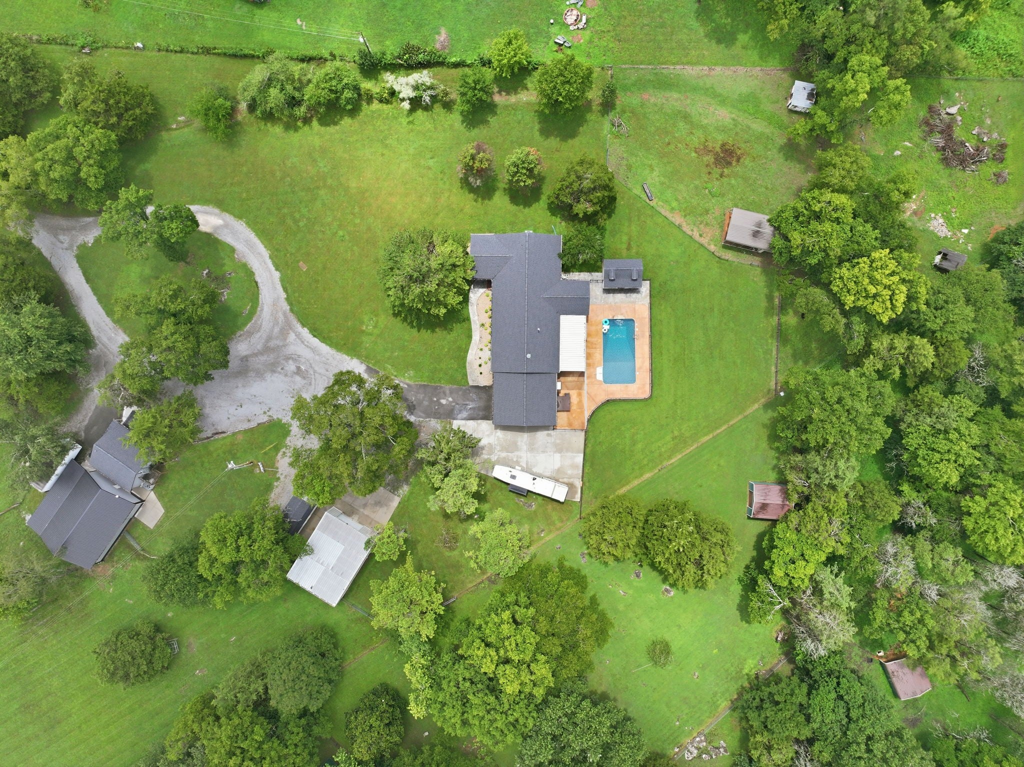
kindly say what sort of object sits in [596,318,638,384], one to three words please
swimming pool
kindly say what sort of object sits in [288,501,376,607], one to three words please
building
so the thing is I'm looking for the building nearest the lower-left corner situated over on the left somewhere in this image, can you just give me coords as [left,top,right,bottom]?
[27,459,143,571]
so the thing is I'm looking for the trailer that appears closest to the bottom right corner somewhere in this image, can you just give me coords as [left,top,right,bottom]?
[492,463,568,502]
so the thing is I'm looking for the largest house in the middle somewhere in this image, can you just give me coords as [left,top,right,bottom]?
[471,230,590,426]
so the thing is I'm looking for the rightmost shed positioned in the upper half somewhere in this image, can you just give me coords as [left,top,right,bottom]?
[930,248,967,274]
